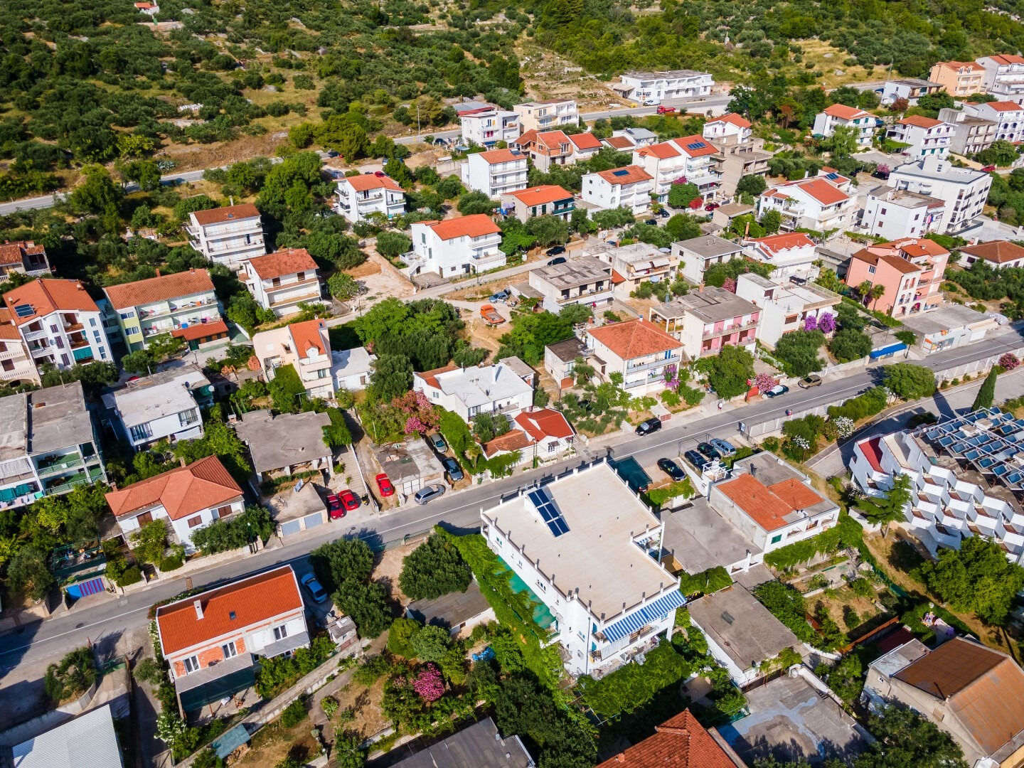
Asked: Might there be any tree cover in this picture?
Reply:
Yes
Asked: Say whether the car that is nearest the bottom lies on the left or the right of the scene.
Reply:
left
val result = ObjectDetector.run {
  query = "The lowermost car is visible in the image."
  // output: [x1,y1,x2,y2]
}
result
[302,573,326,600]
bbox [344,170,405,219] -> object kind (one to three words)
house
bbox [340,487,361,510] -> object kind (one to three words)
car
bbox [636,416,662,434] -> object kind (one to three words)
vehicle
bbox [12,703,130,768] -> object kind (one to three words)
building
